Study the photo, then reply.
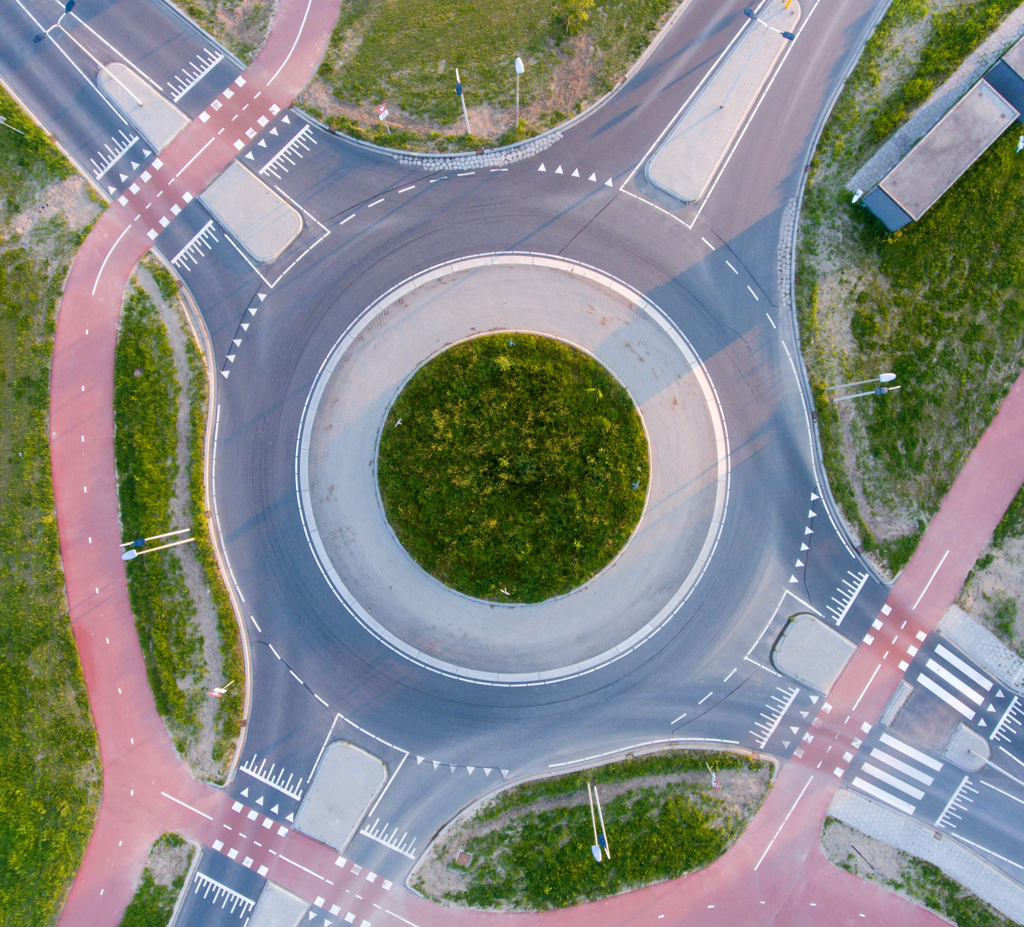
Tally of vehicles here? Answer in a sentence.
There are no vehicles in this view.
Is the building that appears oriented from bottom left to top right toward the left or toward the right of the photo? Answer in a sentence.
The building that appears oriented from bottom left to top right sits on the right side.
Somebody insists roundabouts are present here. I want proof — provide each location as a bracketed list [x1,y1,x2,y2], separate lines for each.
[152,0,893,890]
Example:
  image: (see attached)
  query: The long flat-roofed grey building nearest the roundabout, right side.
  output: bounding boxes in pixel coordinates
[861,78,1020,231]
